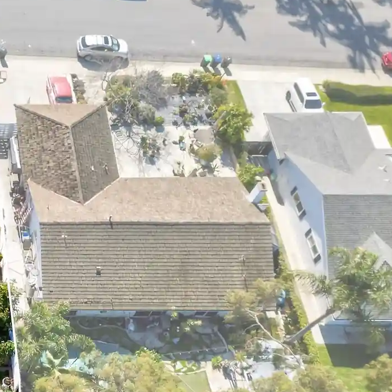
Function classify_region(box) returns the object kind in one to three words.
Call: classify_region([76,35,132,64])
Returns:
car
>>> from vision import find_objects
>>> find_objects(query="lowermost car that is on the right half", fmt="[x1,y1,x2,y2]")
[291,65,333,112]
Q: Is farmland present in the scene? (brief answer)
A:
No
